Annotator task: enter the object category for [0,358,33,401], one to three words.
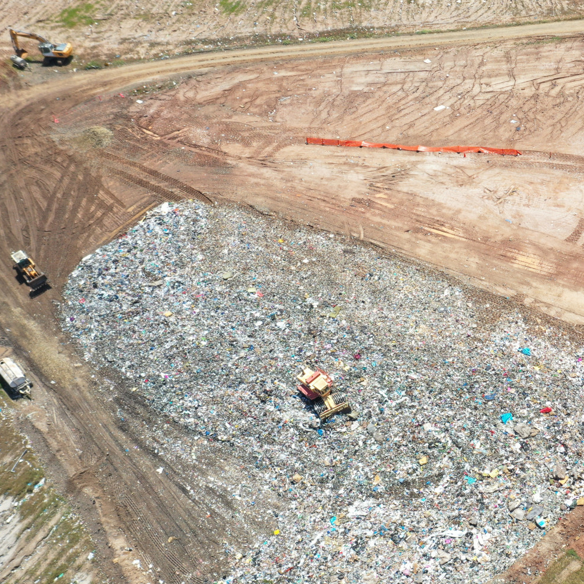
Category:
trailer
